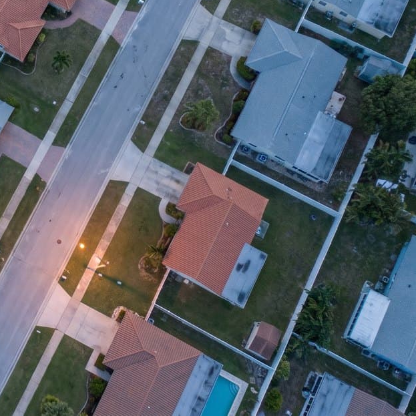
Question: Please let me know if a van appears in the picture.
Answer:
No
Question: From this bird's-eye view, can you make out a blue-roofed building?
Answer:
Yes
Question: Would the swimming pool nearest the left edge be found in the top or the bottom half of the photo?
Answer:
bottom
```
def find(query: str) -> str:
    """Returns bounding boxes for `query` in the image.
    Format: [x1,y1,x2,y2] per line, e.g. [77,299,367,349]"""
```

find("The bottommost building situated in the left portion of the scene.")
[90,310,223,416]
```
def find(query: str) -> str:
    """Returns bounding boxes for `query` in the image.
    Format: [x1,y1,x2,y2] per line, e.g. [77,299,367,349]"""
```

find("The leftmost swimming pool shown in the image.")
[201,374,241,416]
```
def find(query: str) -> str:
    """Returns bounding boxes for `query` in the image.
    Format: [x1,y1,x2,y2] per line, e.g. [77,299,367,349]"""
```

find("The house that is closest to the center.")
[161,162,268,309]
